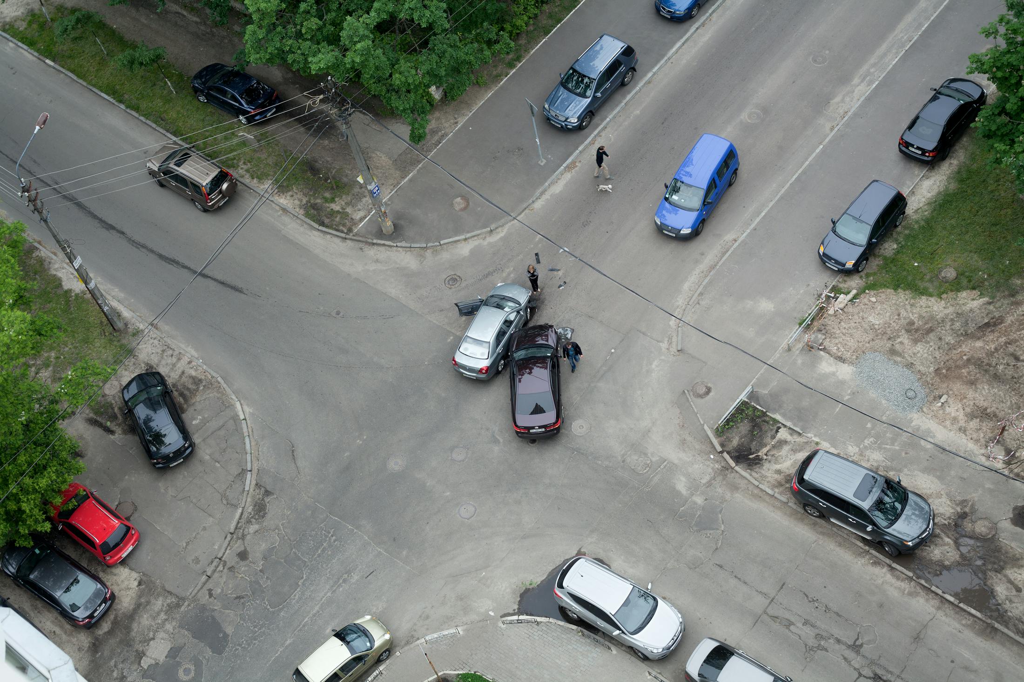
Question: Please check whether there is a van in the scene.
Yes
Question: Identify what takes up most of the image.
paved ground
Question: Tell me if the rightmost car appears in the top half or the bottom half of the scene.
top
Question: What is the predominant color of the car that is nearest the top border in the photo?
blue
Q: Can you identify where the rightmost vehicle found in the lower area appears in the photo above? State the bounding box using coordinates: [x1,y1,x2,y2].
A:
[787,446,938,558]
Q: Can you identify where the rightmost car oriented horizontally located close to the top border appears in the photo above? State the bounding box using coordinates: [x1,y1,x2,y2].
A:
[659,0,711,21]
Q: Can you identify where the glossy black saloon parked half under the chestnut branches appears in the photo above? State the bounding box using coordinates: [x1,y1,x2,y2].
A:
[897,73,988,164]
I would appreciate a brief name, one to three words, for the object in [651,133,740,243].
van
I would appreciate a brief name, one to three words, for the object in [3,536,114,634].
car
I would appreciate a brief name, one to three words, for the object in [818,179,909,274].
car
